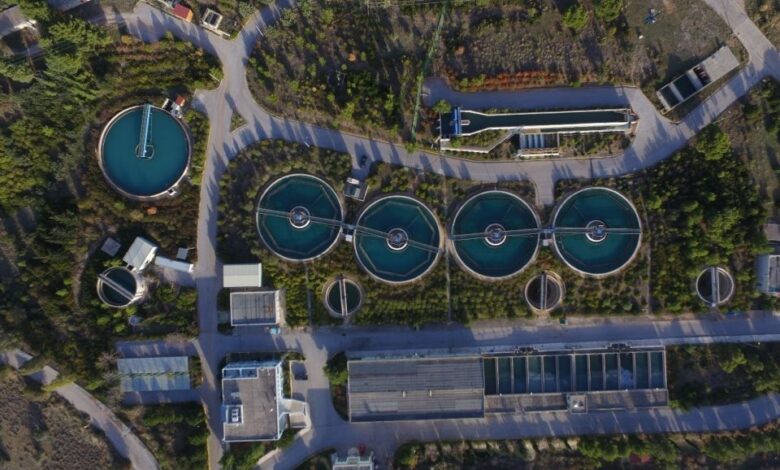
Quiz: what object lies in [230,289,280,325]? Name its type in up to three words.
building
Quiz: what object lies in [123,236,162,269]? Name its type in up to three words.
shed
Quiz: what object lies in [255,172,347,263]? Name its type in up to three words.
storage tank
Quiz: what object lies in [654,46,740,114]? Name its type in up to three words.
water tank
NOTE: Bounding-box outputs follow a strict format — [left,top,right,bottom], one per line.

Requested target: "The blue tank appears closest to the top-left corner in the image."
[98,102,195,200]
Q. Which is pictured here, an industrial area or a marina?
industrial area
